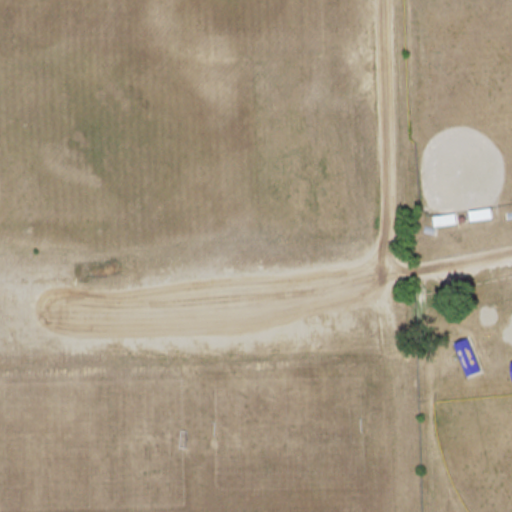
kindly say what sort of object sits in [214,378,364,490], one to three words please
soccer field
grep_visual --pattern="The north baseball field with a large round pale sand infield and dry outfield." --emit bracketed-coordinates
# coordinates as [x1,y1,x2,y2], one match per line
[406,0,512,213]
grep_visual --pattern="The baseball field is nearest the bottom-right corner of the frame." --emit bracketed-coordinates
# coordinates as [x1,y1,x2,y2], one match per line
[437,395,512,512]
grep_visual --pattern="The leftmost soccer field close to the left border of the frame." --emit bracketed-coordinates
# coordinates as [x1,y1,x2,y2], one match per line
[0,377,185,507]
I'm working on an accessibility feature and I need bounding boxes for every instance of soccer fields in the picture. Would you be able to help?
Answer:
[214,378,364,490]
[0,377,185,507]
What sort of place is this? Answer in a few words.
sports ground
